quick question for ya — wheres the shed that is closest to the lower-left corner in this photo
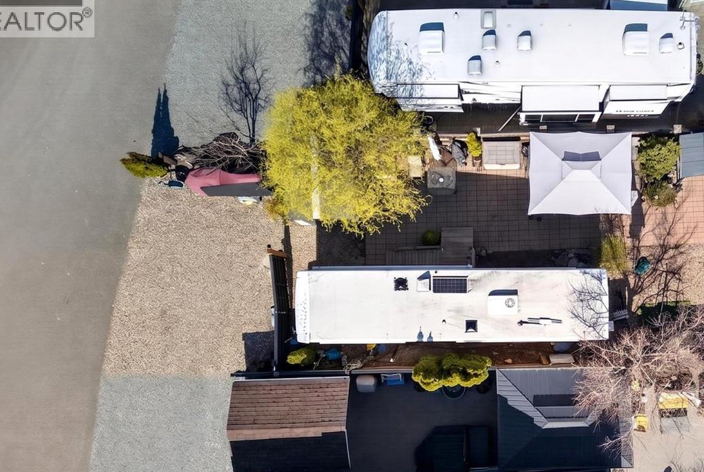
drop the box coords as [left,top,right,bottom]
[226,373,357,472]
